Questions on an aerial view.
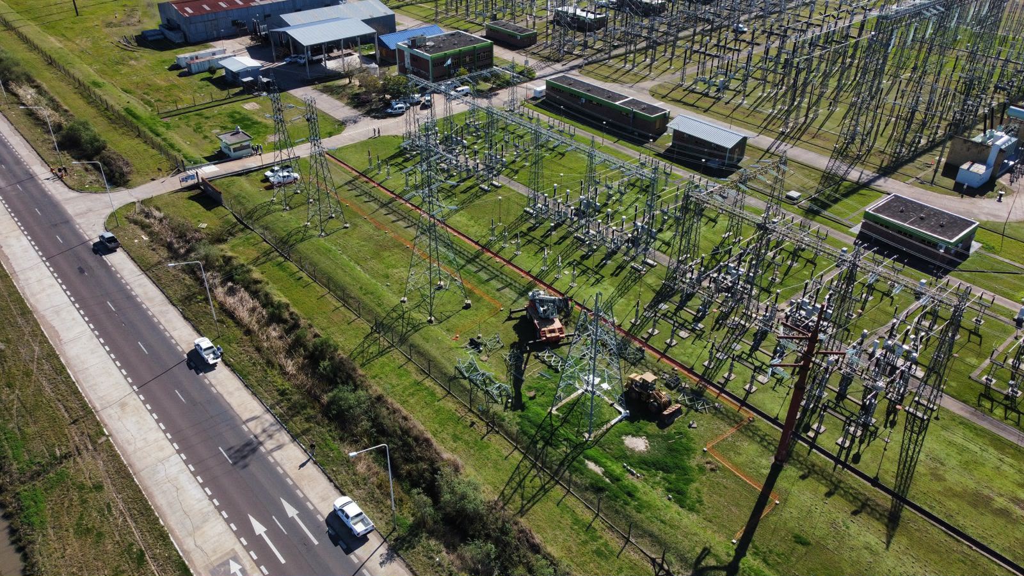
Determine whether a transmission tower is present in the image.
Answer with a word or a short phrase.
Yes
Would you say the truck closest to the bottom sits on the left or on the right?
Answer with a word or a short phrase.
left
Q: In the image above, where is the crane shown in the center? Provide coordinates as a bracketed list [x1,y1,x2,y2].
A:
[503,289,586,354]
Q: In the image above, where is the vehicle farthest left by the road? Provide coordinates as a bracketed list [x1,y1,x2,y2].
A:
[98,234,121,253]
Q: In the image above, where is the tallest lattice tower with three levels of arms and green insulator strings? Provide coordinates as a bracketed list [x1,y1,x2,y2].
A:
[391,114,474,322]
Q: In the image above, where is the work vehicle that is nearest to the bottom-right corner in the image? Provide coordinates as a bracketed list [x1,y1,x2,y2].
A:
[619,371,686,432]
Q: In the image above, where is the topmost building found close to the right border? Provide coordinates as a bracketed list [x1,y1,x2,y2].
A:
[859,194,979,266]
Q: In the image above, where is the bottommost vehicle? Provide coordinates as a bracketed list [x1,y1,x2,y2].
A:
[331,500,378,545]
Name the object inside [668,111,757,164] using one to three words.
building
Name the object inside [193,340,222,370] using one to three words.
truck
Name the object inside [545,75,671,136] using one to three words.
building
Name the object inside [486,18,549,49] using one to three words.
shed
